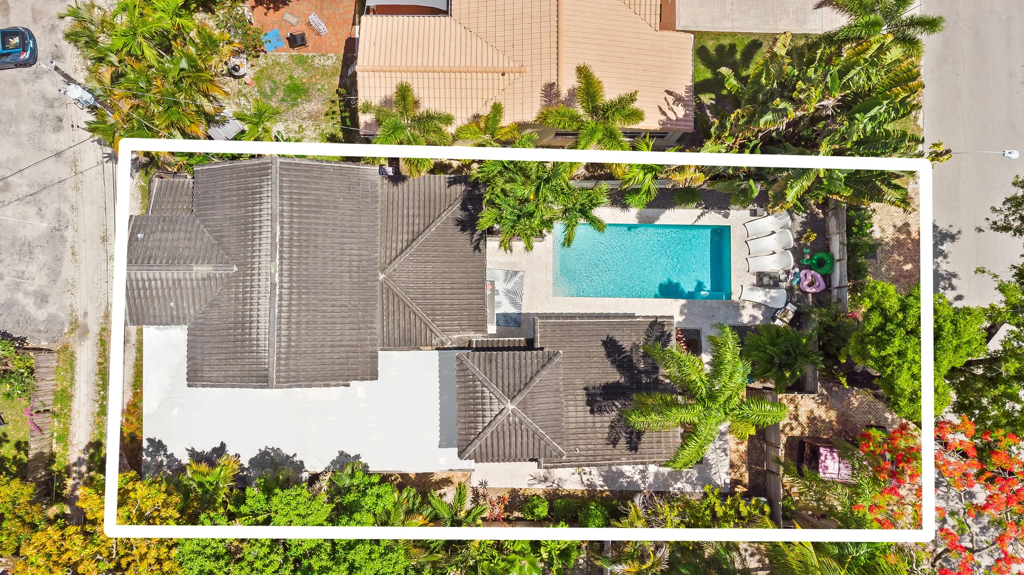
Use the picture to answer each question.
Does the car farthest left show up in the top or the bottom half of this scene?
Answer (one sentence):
You can find the car farthest left in the top half.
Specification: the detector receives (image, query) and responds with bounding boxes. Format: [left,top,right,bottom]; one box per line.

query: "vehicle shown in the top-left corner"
[0,30,44,77]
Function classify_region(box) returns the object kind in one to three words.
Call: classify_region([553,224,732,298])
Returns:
swimming pool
